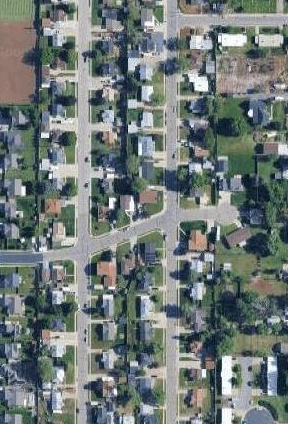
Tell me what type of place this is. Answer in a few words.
residential area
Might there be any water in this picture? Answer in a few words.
No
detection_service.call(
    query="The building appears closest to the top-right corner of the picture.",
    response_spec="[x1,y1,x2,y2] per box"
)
[259,33,283,46]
